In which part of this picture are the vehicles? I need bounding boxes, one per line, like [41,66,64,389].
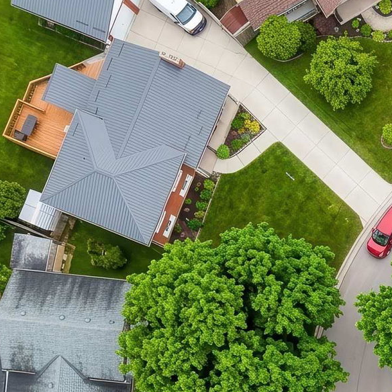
[140,0,210,40]
[368,204,392,259]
